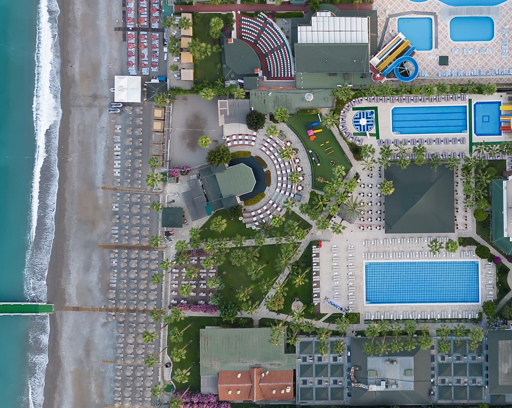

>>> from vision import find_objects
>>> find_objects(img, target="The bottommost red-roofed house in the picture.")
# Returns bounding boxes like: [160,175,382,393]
[218,367,295,402]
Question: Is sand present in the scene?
Yes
